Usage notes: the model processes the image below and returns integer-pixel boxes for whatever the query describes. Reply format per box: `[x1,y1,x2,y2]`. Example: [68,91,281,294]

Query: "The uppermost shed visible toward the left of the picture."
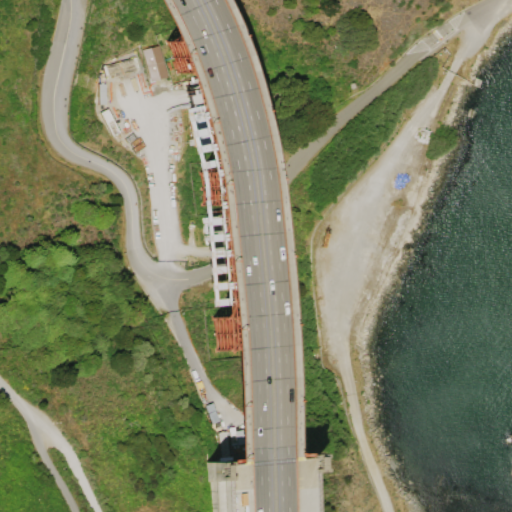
[146,48,170,84]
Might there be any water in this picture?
Yes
